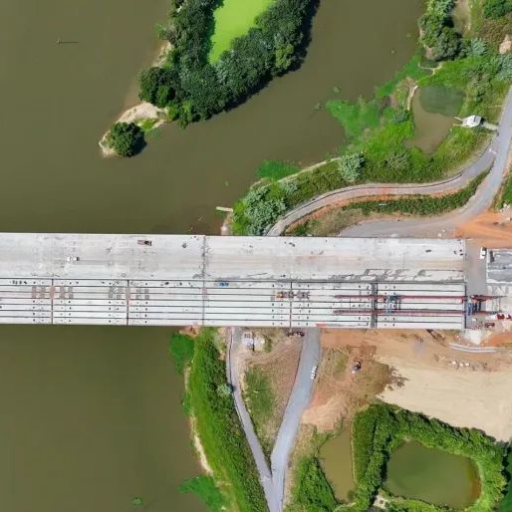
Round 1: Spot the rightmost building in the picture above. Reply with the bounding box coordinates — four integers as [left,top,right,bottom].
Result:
[457,112,483,130]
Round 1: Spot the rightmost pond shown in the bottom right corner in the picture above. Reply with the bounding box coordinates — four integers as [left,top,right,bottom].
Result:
[384,439,482,508]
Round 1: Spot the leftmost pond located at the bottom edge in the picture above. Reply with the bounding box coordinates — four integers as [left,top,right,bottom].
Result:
[316,426,354,499]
